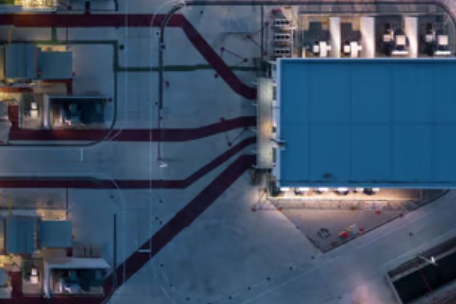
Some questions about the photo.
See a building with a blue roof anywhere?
Yes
